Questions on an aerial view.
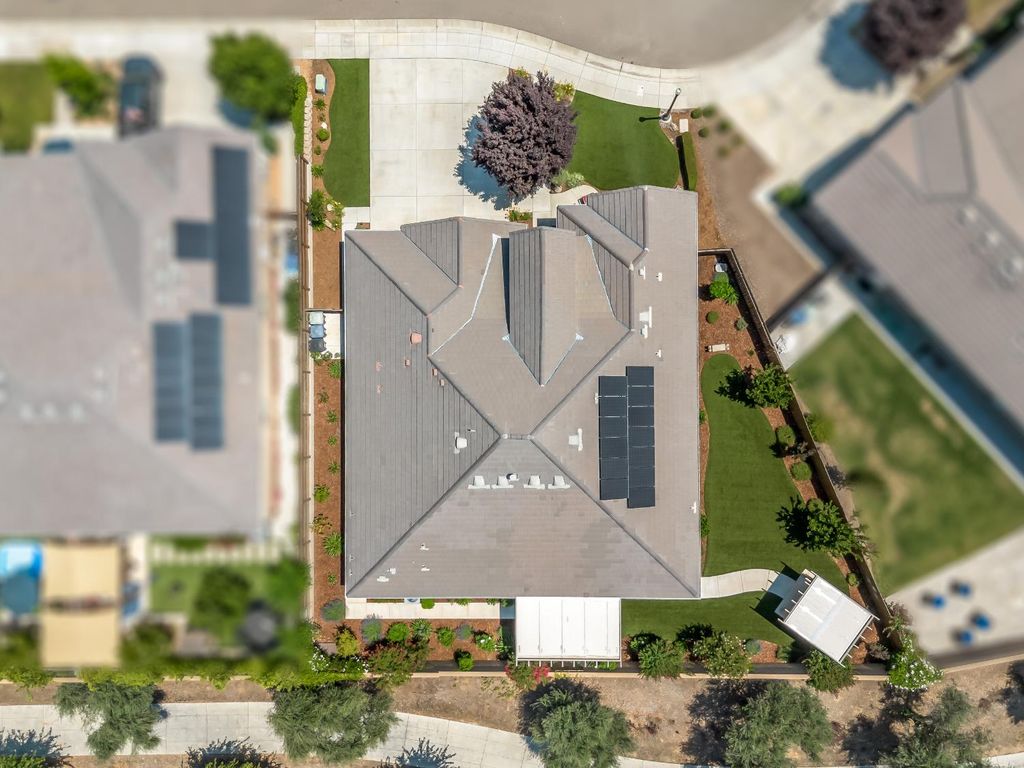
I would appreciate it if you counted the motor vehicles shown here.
1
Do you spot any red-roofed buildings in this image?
No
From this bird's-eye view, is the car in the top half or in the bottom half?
top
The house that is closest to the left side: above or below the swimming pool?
above it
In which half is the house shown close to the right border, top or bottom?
top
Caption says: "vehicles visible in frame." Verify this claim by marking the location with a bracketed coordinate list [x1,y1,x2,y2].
[118,55,165,141]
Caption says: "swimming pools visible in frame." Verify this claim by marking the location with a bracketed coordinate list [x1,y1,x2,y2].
[0,567,46,614]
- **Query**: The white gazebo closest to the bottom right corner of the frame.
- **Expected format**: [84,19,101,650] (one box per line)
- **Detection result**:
[776,571,878,666]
